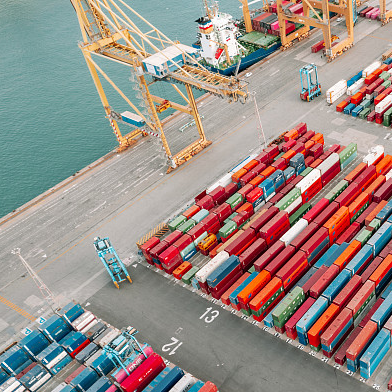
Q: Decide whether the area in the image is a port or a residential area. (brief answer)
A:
port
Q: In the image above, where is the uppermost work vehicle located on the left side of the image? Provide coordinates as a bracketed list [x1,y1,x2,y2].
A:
[92,238,127,290]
